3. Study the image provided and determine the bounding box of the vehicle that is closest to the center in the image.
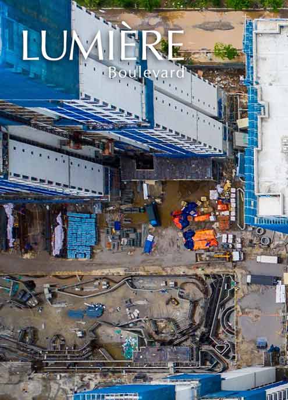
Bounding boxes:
[141,199,158,226]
